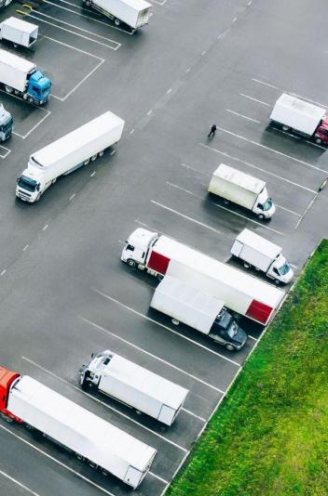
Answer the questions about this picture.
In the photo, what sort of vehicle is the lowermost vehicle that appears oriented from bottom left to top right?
truck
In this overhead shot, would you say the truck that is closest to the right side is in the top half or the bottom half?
top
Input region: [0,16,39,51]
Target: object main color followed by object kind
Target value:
white van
